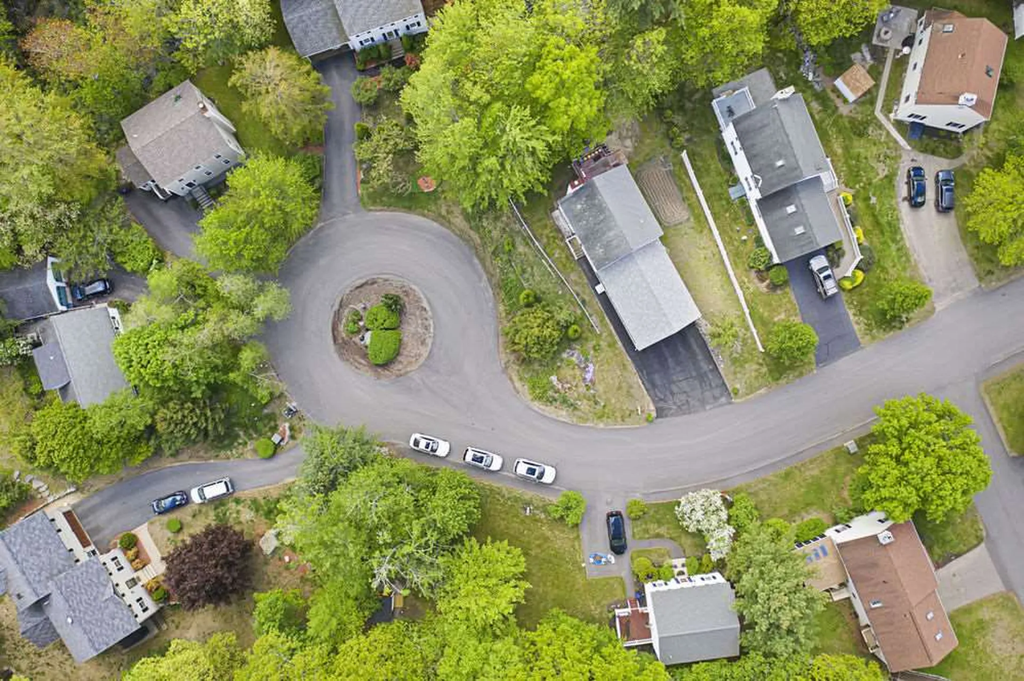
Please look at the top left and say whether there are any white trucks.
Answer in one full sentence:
No, I see no white truck at the top left.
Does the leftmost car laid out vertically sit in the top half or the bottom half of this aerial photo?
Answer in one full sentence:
Seen from above, the leftmost car laid out vertically lies in the bottom half of the view.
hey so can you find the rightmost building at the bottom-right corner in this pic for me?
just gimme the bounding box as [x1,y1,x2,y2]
[786,511,961,672]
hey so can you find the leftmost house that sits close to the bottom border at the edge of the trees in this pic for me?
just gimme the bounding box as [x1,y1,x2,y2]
[0,504,166,664]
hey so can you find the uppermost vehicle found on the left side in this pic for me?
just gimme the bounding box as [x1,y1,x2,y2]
[74,277,120,301]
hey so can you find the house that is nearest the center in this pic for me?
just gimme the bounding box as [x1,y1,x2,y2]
[545,148,702,351]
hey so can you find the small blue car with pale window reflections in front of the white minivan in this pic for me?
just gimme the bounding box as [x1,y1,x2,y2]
[151,491,190,514]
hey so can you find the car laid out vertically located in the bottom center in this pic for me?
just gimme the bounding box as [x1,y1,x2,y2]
[606,509,628,553]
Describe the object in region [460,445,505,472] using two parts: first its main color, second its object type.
white car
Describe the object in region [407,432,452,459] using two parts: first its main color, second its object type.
white car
